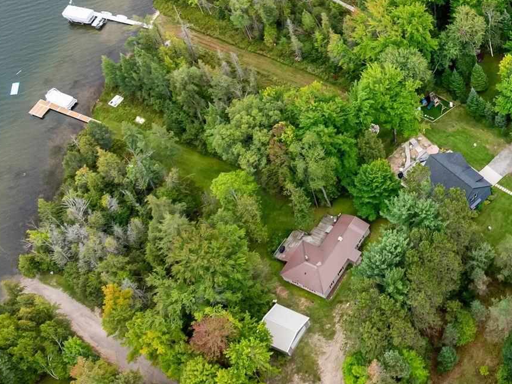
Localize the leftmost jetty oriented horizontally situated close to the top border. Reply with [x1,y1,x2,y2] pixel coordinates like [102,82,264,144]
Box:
[92,9,159,28]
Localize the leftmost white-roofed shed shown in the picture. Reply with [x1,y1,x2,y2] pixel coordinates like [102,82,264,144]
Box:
[260,303,311,357]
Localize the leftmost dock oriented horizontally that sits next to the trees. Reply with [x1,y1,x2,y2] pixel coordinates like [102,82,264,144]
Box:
[30,100,101,123]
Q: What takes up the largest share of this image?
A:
trees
